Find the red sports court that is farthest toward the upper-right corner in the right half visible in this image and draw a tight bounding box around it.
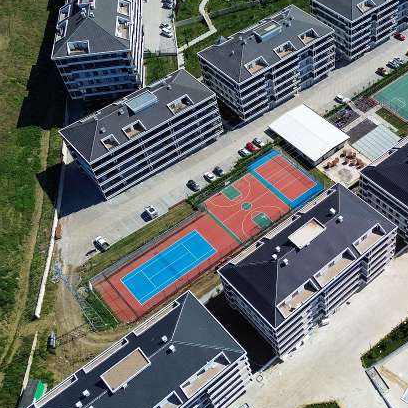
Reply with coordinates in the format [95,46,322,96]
[248,149,324,207]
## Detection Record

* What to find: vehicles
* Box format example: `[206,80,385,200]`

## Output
[213,166,224,176]
[160,3,173,9]
[246,143,257,152]
[252,138,265,148]
[332,91,346,103]
[204,173,216,183]
[376,68,388,77]
[187,181,200,192]
[94,238,109,251]
[238,148,250,158]
[159,23,171,29]
[45,331,62,353]
[160,29,174,35]
[145,207,158,220]
[389,59,402,68]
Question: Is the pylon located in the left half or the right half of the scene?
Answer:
left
